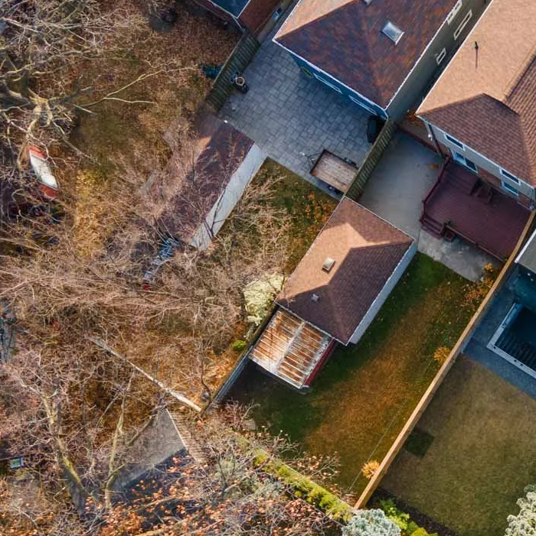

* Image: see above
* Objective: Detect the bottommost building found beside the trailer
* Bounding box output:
[276,196,416,346]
